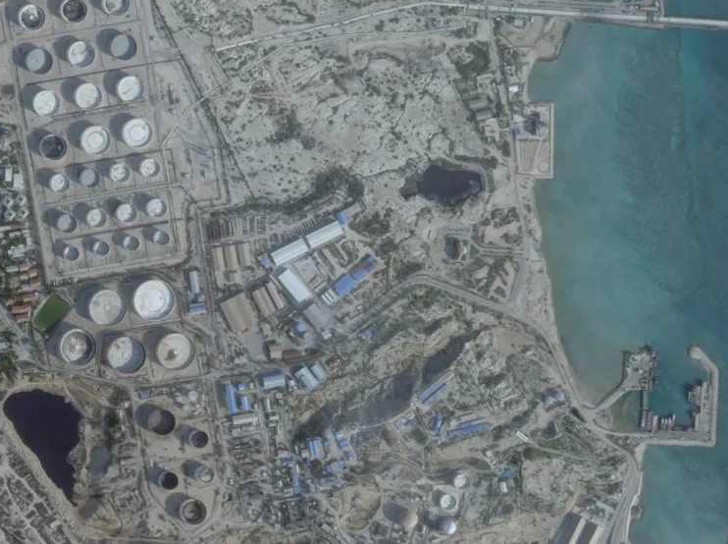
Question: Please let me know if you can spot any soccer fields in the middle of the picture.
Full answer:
No, the scene shows no soccer field in the middle of the picture.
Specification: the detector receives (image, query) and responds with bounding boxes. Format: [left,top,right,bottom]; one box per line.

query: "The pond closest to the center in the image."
[401,164,483,206]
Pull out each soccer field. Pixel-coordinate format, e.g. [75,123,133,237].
[31,291,72,333]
